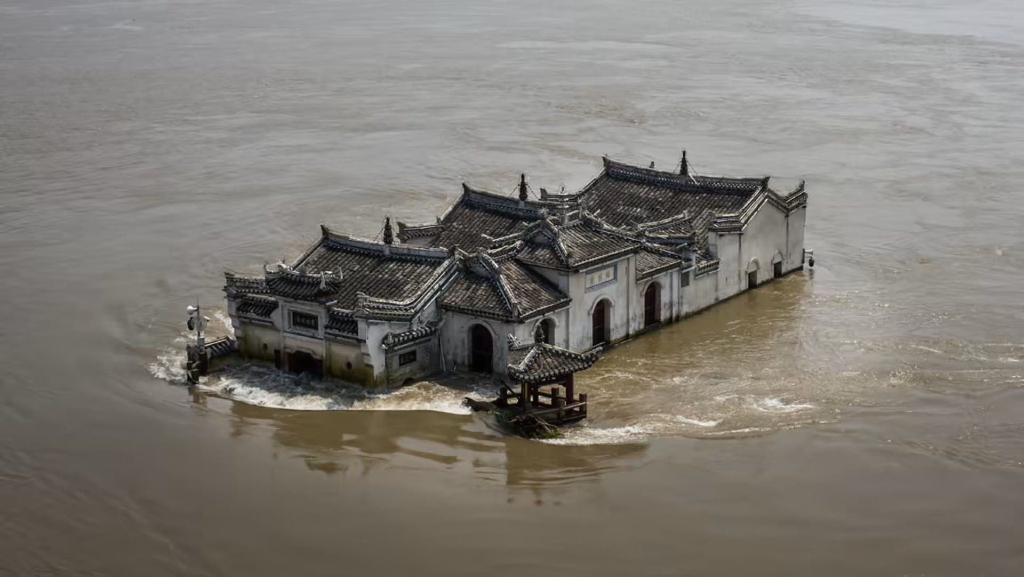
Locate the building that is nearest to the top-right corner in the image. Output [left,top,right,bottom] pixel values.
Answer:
[543,150,808,300]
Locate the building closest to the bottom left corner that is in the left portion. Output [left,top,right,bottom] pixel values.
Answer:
[221,213,478,394]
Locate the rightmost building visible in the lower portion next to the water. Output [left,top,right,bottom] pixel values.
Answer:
[496,323,607,435]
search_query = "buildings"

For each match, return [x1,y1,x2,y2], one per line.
[543,150,808,300]
[496,323,607,435]
[221,213,478,394]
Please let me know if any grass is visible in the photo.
No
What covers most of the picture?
water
